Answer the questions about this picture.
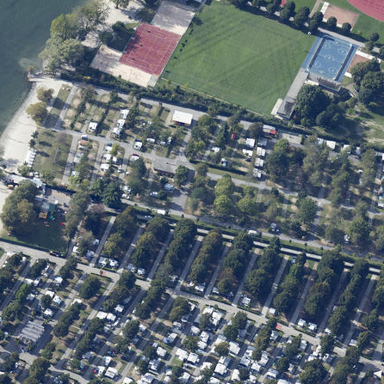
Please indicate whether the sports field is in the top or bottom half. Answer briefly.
top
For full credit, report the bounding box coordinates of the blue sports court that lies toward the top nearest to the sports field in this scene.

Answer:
[301,34,359,83]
